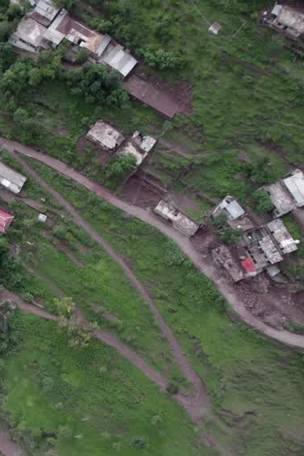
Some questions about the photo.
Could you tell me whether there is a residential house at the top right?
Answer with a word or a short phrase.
Yes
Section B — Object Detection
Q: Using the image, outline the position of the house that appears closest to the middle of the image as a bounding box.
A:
[150,200,198,237]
